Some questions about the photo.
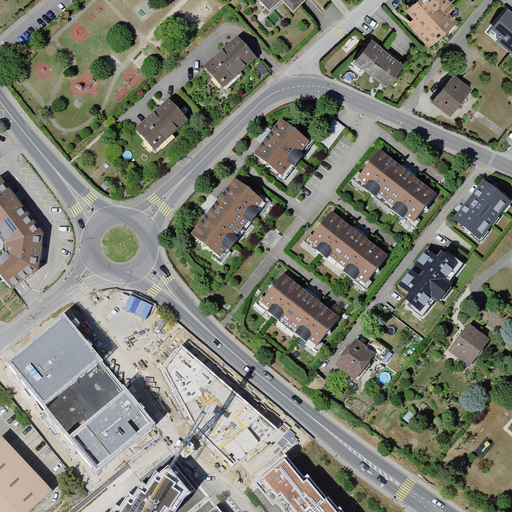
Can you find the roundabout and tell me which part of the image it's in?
left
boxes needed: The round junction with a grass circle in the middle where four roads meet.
[80,205,160,285]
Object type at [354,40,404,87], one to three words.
house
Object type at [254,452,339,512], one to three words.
building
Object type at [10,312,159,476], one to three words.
building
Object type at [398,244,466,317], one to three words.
house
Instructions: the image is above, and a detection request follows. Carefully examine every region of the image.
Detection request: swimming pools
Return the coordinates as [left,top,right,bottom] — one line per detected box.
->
[378,371,392,384]
[344,72,354,82]
[122,150,133,160]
